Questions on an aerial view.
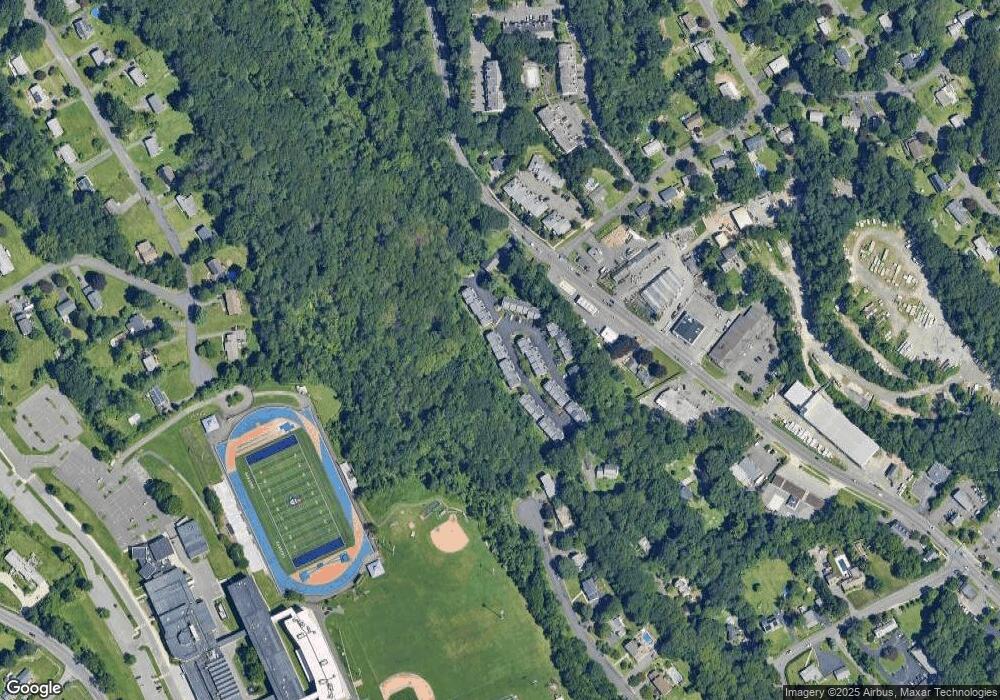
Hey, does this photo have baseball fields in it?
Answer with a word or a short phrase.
Yes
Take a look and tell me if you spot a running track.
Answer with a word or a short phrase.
Yes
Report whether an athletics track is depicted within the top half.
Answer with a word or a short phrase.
No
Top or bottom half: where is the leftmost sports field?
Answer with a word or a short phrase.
bottom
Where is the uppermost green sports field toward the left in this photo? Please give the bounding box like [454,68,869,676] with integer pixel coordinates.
[236,428,355,575]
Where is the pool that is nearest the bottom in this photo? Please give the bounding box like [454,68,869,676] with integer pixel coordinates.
[640,627,658,648]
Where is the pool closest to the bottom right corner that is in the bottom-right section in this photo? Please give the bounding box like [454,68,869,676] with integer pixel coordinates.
[835,555,851,577]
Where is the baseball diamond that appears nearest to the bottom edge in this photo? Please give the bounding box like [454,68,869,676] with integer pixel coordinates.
[350,634,435,700]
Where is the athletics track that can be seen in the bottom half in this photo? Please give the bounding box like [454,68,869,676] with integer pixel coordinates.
[216,406,374,595]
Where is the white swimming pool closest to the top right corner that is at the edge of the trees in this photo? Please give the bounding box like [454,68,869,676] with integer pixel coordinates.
[522,61,540,88]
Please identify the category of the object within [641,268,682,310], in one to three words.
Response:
greenhouse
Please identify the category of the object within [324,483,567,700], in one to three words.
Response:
sports field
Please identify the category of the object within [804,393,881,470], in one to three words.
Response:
building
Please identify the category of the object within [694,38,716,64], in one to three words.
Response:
house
